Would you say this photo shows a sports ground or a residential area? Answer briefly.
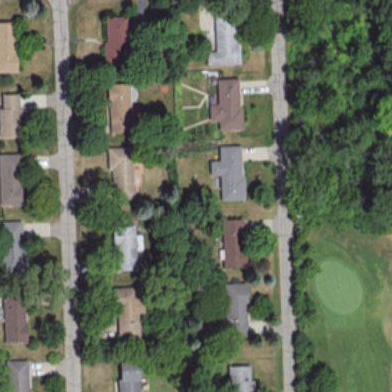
residential area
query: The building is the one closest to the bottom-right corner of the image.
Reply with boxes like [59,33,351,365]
[230,365,254,392]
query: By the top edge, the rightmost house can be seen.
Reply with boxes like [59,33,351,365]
[208,14,243,66]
